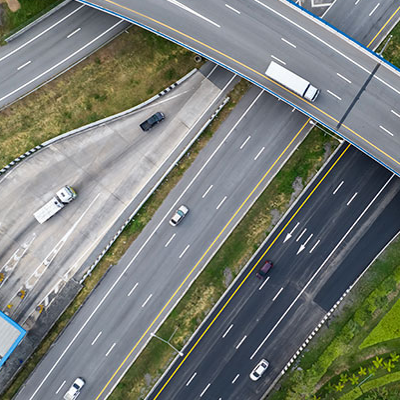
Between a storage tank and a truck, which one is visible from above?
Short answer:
truck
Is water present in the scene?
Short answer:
No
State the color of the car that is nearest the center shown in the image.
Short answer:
white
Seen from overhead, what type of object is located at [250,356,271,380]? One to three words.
car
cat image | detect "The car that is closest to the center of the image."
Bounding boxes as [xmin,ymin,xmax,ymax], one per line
[169,203,191,227]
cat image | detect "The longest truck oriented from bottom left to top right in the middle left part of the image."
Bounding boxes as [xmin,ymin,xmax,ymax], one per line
[34,188,80,223]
